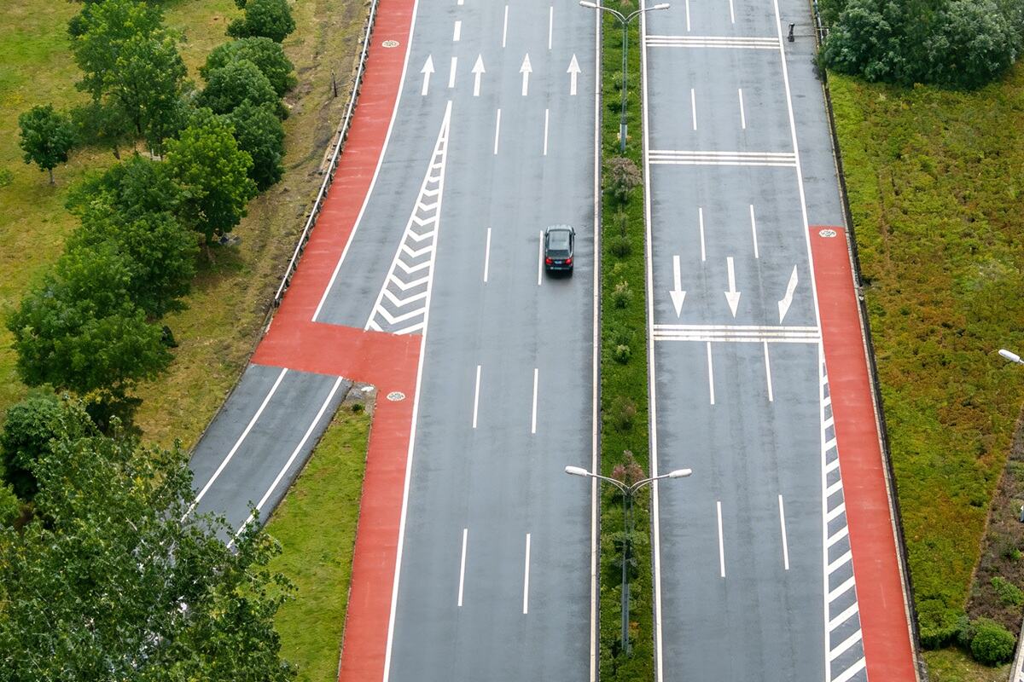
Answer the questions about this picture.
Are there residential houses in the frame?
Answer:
No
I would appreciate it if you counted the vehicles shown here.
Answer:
1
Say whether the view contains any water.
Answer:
No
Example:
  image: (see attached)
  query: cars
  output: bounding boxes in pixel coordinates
[543,225,577,275]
